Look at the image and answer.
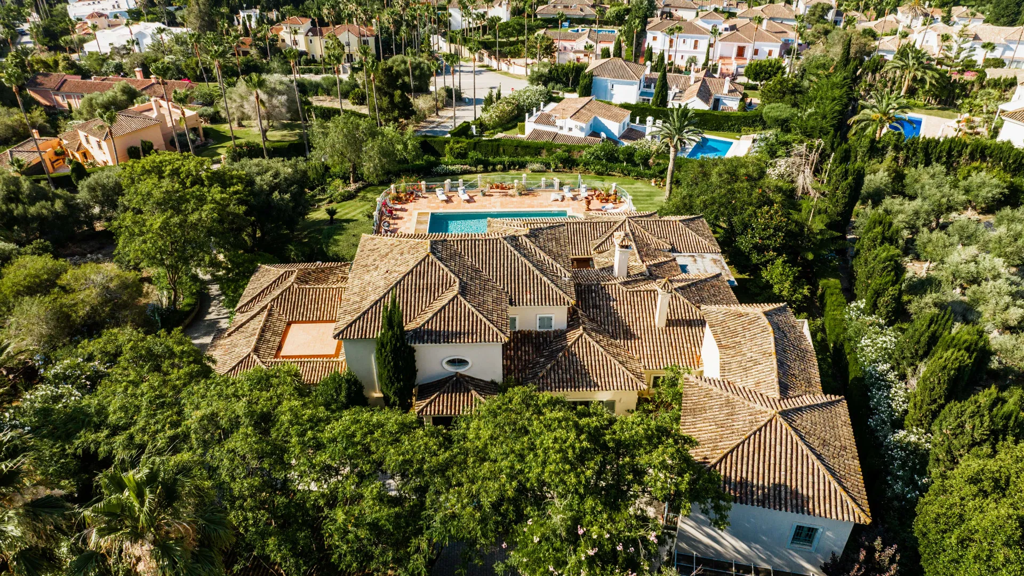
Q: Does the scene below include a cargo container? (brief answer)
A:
No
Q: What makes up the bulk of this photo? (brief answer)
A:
trees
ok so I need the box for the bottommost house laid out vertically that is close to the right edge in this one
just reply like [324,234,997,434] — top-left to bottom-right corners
[991,81,1024,153]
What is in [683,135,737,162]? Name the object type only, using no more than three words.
swimming pool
